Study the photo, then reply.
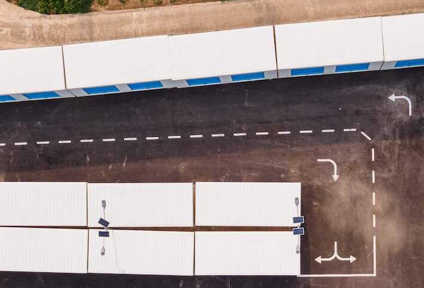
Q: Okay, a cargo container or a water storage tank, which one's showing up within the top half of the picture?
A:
cargo container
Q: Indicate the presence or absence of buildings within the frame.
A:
No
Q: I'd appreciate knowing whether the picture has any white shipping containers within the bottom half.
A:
Yes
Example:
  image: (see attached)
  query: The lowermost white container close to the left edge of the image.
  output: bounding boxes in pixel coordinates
[0,227,90,272]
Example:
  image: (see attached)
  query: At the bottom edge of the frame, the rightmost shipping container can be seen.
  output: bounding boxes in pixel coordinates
[195,232,301,276]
